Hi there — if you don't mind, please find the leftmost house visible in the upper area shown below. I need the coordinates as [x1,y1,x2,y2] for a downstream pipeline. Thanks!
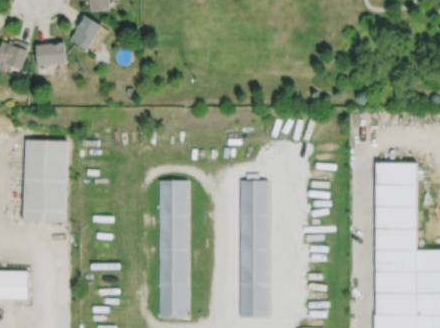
[0,38,27,71]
